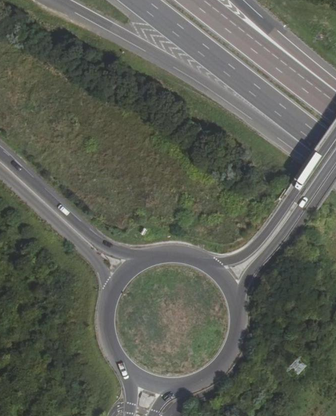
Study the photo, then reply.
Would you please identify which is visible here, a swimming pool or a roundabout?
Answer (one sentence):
Looking from above, you can make out a roundabout.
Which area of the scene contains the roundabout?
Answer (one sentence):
The roundabout is in the bottom part of the image.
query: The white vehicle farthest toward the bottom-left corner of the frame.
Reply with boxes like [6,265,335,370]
[115,360,127,378]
